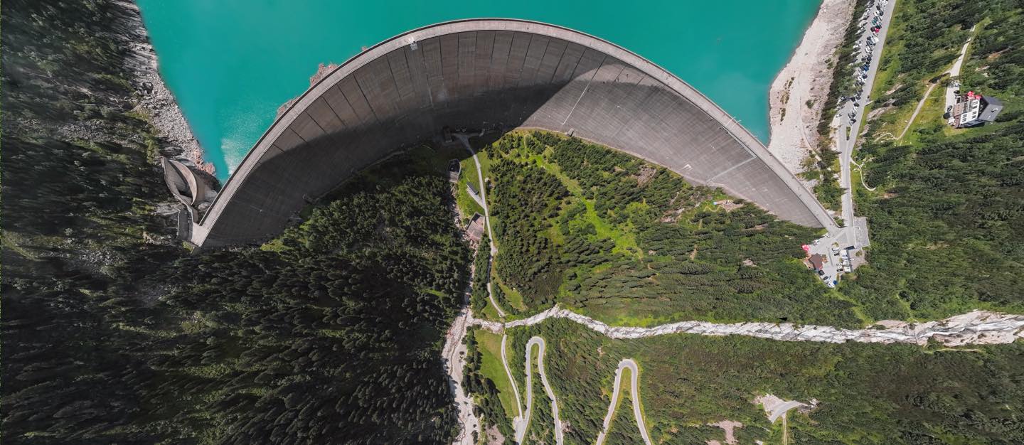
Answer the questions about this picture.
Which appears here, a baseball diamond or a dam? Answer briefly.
dam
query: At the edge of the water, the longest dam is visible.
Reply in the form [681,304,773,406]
[185,17,832,247]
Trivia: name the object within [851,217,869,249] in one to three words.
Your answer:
building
